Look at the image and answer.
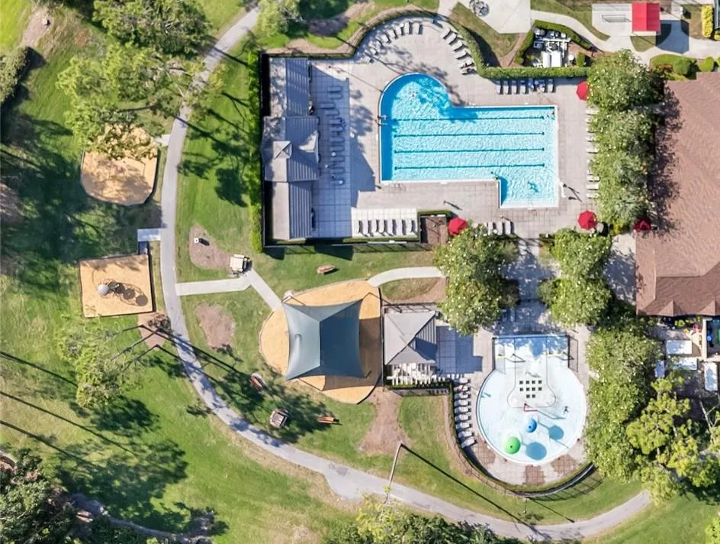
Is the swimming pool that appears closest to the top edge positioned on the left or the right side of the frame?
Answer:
right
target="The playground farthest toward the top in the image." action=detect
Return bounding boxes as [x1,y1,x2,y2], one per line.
[81,125,159,205]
